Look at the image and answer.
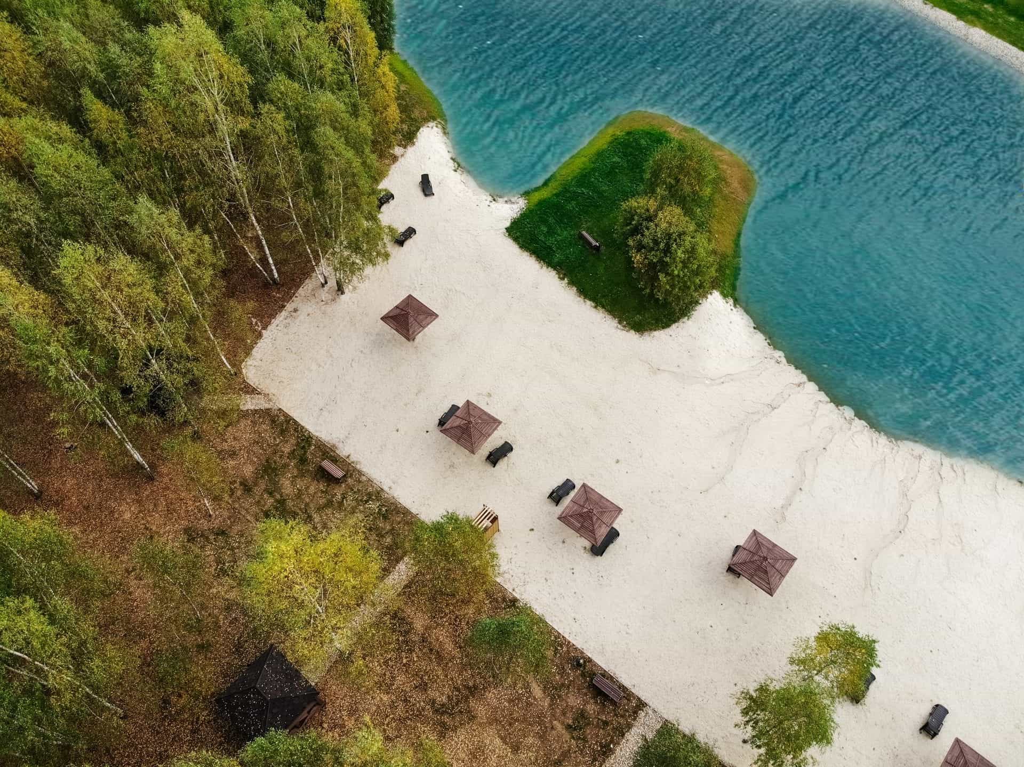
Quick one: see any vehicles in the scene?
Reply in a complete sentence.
No, this view has no vehicle in it.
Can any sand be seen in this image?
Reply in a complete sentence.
Yes, the picture does contain sand.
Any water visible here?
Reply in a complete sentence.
Yes, some water is visible.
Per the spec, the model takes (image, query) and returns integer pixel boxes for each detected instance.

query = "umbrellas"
[557,483,624,546]
[941,737,999,767]
[729,528,798,596]
[380,294,439,342]
[439,399,503,455]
